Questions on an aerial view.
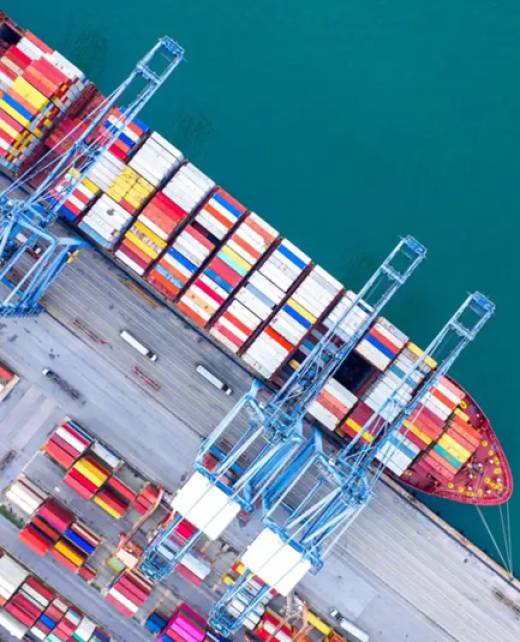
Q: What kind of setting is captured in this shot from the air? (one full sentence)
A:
This looks like a port.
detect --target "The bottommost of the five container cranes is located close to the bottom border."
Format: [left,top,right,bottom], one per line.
[257,577,316,642]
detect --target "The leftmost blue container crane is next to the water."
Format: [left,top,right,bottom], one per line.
[0,31,188,323]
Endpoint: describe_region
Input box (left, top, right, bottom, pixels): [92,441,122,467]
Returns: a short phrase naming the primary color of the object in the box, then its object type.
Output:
white shipping container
